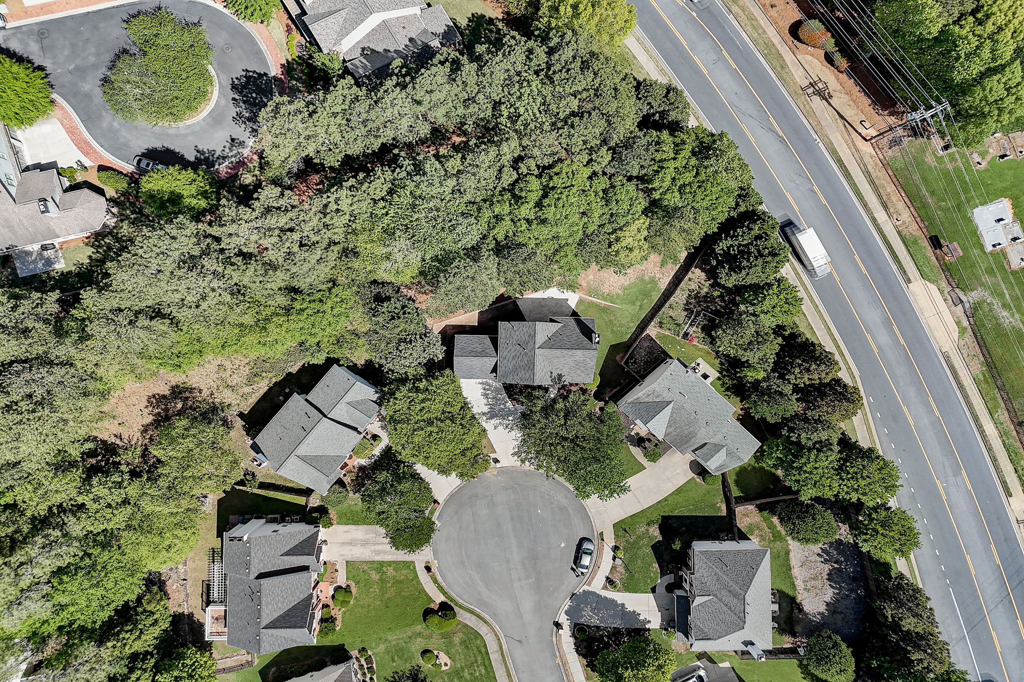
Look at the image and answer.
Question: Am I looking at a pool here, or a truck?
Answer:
truck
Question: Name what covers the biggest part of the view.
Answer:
trees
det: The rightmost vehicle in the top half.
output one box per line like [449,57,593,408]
[791,220,828,283]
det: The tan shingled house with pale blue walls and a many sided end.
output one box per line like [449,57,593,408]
[0,116,119,257]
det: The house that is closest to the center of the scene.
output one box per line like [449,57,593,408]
[454,317,603,385]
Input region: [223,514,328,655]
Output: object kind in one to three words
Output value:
house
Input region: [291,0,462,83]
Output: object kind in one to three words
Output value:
house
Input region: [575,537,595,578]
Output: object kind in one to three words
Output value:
car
